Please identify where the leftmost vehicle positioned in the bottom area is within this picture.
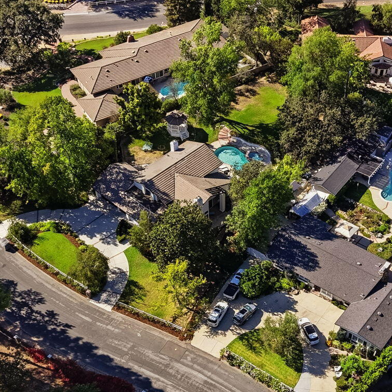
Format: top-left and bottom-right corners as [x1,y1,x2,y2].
[204,297,229,329]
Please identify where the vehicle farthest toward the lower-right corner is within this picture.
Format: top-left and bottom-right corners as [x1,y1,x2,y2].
[296,314,323,347]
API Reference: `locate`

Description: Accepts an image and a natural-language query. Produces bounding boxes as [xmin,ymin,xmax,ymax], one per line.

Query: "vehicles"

[229,297,260,329]
[296,314,323,347]
[204,297,229,329]
[221,265,246,300]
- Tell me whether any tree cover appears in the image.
Yes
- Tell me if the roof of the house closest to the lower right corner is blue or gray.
gray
